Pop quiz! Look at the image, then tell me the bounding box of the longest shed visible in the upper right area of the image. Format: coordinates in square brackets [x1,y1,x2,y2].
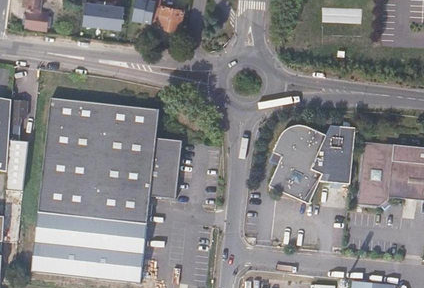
[322,7,364,25]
